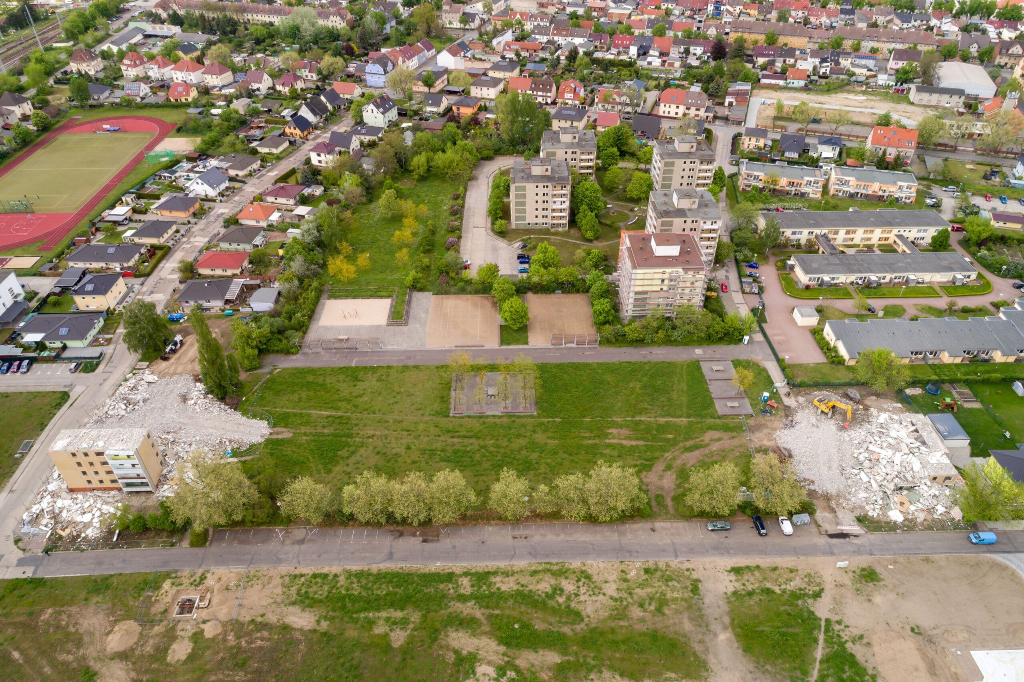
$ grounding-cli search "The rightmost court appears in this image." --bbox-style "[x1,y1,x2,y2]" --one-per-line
[526,294,598,345]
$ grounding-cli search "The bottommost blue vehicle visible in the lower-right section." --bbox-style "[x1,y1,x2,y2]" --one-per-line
[969,531,1000,544]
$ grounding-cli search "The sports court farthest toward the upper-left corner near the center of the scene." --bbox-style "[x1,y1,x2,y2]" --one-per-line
[426,295,500,347]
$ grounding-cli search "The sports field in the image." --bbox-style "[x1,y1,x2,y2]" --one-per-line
[0,132,158,213]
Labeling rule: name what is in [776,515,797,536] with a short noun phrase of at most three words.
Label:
car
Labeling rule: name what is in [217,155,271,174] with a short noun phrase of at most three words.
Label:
shed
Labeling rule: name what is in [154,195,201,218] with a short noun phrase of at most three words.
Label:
house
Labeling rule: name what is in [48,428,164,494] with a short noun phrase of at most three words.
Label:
building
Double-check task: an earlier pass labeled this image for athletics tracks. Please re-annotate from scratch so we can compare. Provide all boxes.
[0,120,170,252]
